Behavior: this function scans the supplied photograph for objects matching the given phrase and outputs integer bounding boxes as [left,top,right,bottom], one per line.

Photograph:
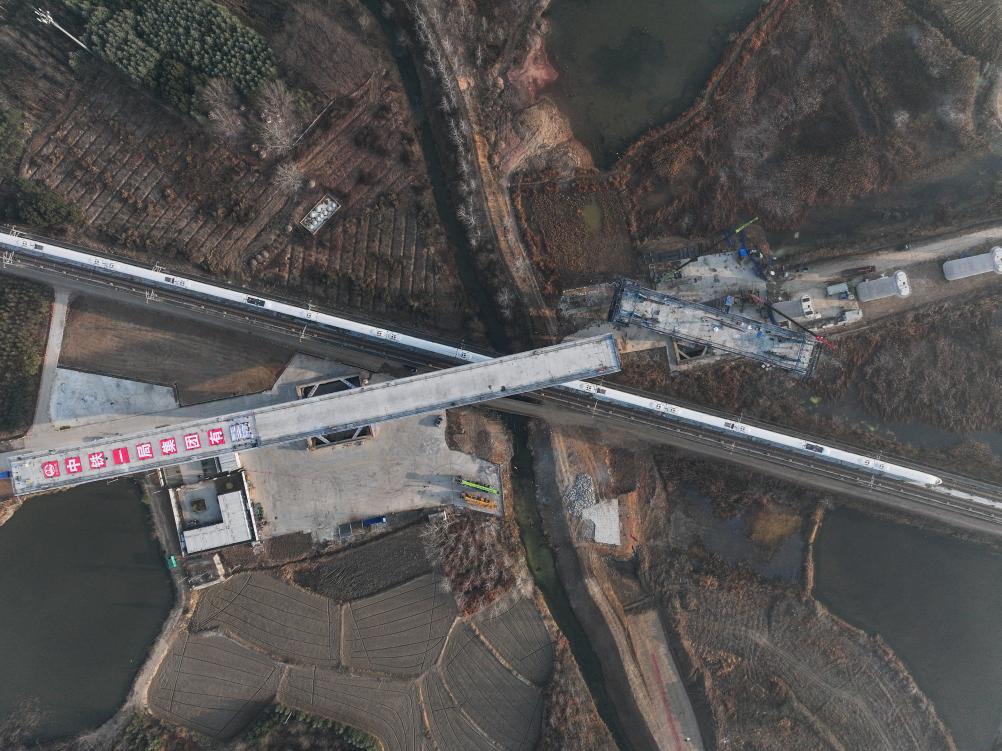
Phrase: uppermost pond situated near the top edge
[540,0,769,171]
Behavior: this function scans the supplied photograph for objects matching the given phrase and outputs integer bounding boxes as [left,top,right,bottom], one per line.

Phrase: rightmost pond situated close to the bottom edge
[812,497,1002,751]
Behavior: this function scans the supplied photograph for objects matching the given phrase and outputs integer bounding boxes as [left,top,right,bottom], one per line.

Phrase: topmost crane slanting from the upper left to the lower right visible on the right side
[745,289,835,350]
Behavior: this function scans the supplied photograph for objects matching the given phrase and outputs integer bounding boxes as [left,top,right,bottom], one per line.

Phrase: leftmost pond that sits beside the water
[0,469,176,740]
